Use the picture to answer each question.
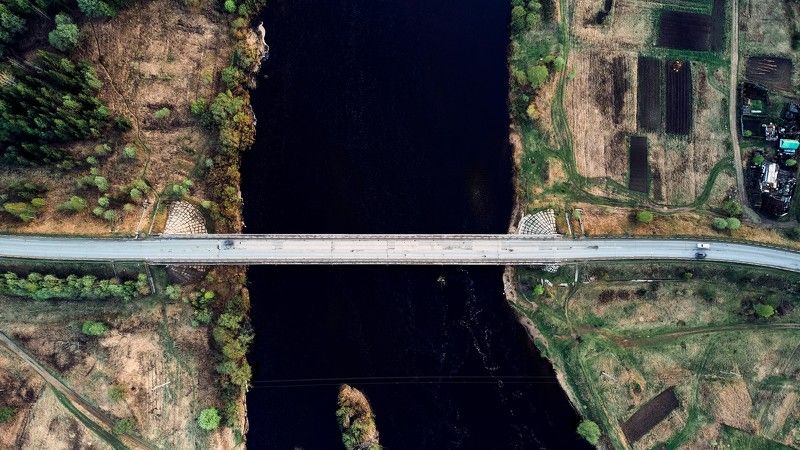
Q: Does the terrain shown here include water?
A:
Yes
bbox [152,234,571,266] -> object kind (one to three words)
bridge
